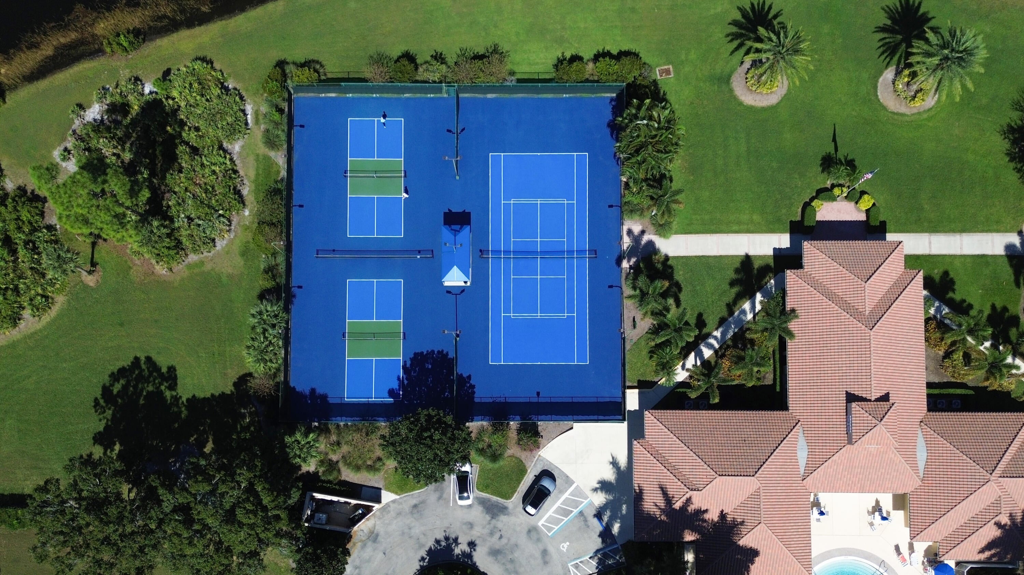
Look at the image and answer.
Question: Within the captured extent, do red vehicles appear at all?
No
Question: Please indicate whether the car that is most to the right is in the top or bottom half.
bottom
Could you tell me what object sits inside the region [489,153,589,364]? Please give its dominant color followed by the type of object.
blue tennis court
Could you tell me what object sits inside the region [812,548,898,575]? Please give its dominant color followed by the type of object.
white swimming pool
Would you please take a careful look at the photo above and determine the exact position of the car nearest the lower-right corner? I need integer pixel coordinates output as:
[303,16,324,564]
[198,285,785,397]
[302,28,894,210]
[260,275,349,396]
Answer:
[523,474,555,518]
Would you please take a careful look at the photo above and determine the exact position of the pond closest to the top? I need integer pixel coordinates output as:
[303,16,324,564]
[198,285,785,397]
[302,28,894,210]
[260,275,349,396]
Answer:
[0,0,310,104]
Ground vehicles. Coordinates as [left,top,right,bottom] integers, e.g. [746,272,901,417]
[523,474,555,518]
[455,462,473,506]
